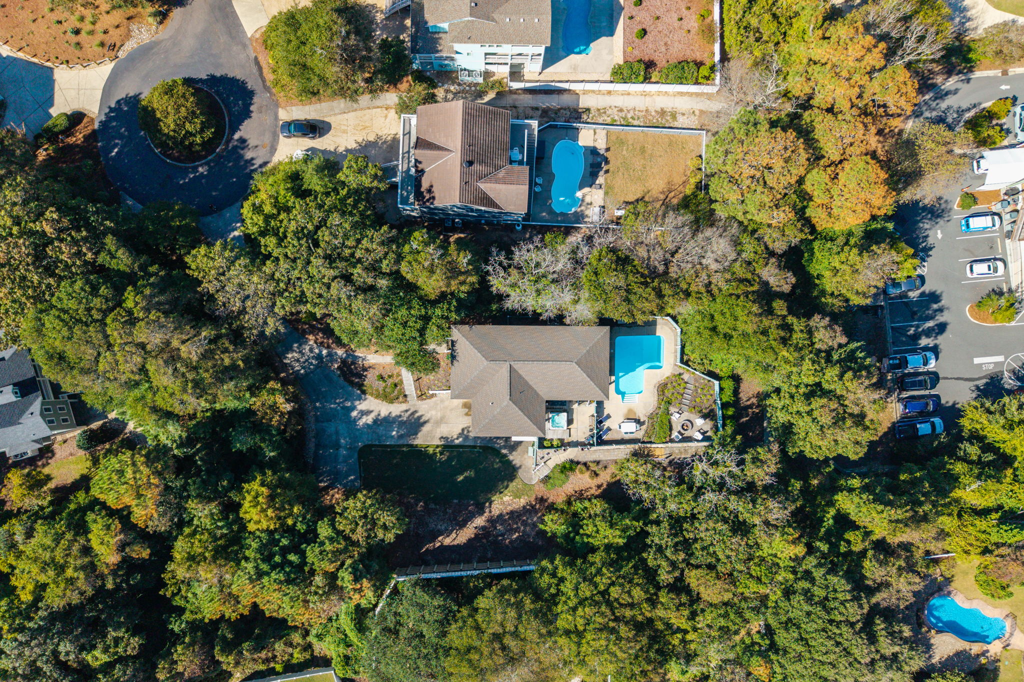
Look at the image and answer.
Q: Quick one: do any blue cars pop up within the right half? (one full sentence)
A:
Yes, a blue car appears within the right half.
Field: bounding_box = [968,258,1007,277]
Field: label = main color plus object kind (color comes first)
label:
white car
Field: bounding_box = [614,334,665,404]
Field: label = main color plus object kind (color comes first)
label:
blue swimming pool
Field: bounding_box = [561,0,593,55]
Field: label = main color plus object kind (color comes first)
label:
blue swimming pool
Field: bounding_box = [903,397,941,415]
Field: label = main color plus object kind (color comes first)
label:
blue car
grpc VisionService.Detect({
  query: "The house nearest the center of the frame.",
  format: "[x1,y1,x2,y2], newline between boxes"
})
[448,325,610,441]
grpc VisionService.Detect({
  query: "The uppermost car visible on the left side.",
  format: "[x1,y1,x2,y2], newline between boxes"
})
[279,118,319,138]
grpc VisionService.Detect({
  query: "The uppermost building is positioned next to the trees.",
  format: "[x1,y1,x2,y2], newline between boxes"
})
[410,0,551,72]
